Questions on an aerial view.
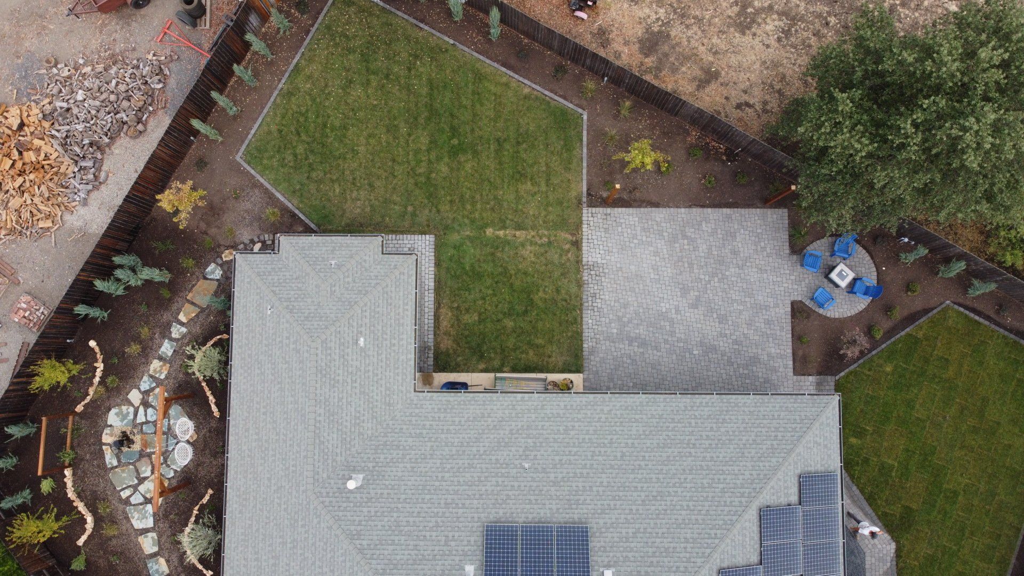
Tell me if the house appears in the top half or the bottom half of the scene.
bottom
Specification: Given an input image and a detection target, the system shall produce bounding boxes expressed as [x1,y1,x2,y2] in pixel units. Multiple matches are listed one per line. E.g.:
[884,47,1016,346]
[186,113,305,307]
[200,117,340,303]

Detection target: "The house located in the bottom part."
[222,234,846,576]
